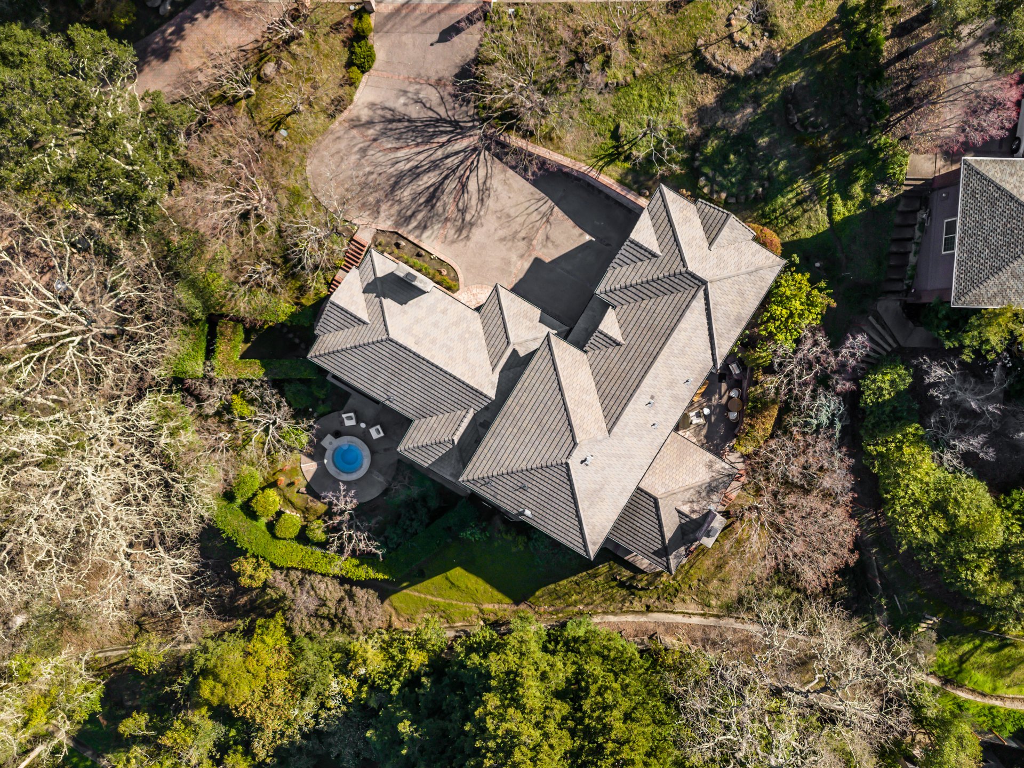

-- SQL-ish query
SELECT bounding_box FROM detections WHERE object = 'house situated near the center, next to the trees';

[304,181,791,581]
